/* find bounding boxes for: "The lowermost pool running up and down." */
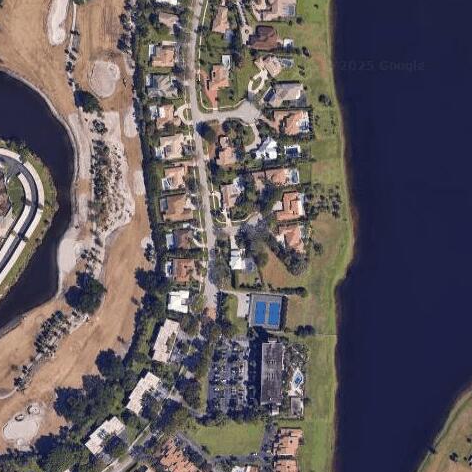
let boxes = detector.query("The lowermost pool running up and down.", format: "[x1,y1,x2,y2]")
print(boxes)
[289,367,304,396]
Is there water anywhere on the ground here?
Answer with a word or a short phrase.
Yes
